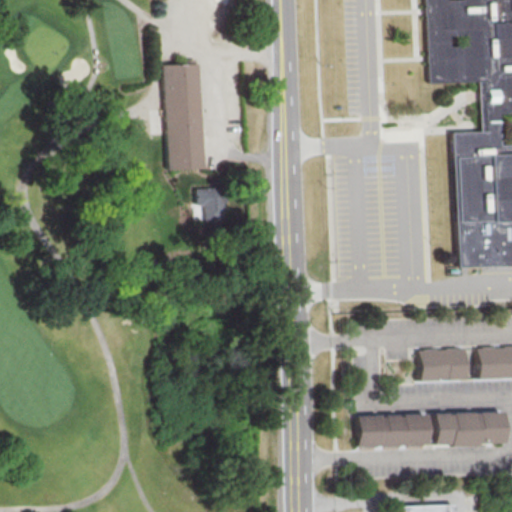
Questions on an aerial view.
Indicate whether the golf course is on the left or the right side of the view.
left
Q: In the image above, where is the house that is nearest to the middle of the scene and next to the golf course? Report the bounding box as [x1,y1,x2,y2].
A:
[190,188,230,221]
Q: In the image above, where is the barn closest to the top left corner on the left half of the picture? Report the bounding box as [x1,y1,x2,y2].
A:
[164,64,204,172]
